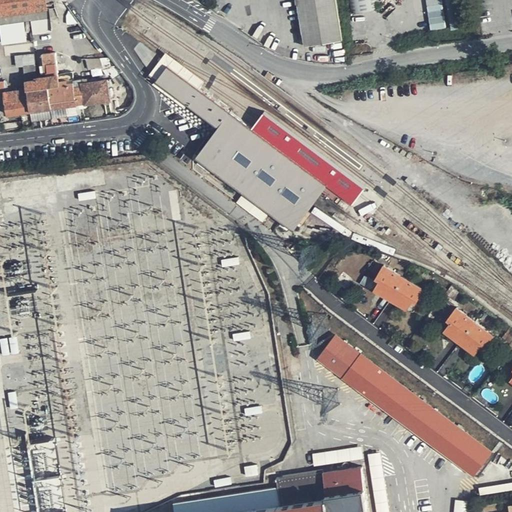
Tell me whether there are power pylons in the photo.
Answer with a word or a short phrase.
Yes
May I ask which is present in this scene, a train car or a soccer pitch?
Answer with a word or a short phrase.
train car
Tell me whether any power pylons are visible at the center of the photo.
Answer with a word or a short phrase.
Yes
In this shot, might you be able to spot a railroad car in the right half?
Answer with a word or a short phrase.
Yes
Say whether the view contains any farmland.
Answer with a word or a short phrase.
No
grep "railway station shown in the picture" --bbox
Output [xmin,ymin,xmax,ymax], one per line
[149,53,325,233]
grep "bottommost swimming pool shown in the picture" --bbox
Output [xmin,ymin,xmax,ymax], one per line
[480,386,500,404]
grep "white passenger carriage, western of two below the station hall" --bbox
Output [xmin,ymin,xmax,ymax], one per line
[312,205,353,236]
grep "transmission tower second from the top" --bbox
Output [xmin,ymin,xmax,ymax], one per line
[302,316,326,357]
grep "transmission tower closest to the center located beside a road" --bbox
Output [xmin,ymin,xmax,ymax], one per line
[292,250,316,287]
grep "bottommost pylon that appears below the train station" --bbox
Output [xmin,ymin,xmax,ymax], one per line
[317,390,342,436]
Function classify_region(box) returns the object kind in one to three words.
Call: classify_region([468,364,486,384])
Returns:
swimming pool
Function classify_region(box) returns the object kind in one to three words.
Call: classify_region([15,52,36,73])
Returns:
shed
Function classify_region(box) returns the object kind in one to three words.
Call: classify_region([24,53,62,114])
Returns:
house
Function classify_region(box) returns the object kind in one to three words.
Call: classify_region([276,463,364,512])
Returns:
building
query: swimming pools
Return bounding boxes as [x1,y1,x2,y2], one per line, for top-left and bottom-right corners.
[468,364,486,384]
[480,386,500,404]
